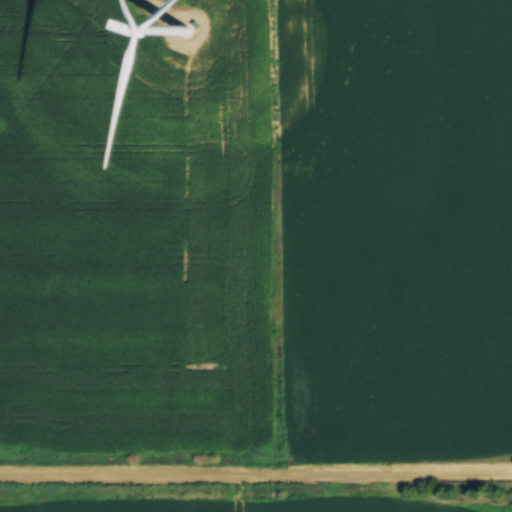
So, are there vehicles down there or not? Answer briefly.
No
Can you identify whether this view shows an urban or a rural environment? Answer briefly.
rural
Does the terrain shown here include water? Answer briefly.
No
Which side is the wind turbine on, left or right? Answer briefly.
left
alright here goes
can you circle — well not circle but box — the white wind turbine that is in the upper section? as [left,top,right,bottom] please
[104,0,196,168]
